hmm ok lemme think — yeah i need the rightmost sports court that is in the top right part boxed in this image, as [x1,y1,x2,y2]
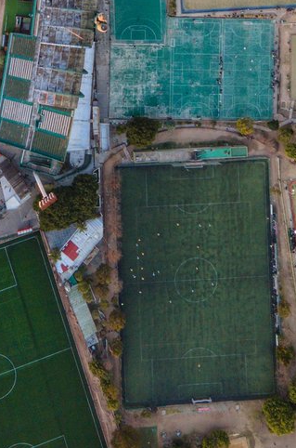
[221,18,275,120]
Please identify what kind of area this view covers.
sports ground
